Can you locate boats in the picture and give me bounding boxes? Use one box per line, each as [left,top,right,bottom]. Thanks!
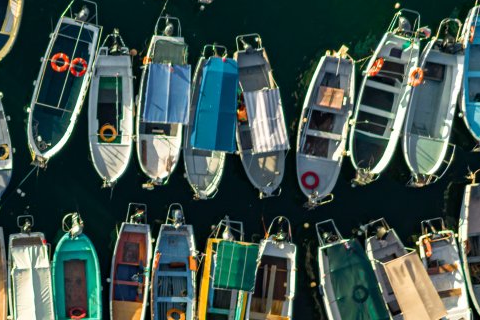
[400,18,465,189]
[140,16,191,188]
[461,166,480,315]
[184,35,239,204]
[9,211,54,320]
[364,215,451,320]
[296,55,355,205]
[0,227,8,320]
[418,214,477,320]
[351,8,421,182]
[28,0,102,166]
[49,213,102,320]
[150,202,198,320]
[201,217,262,320]
[109,202,153,320]
[316,219,391,320]
[0,98,14,199]
[251,215,301,320]
[234,30,291,199]
[87,28,135,188]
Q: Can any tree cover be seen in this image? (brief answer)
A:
No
